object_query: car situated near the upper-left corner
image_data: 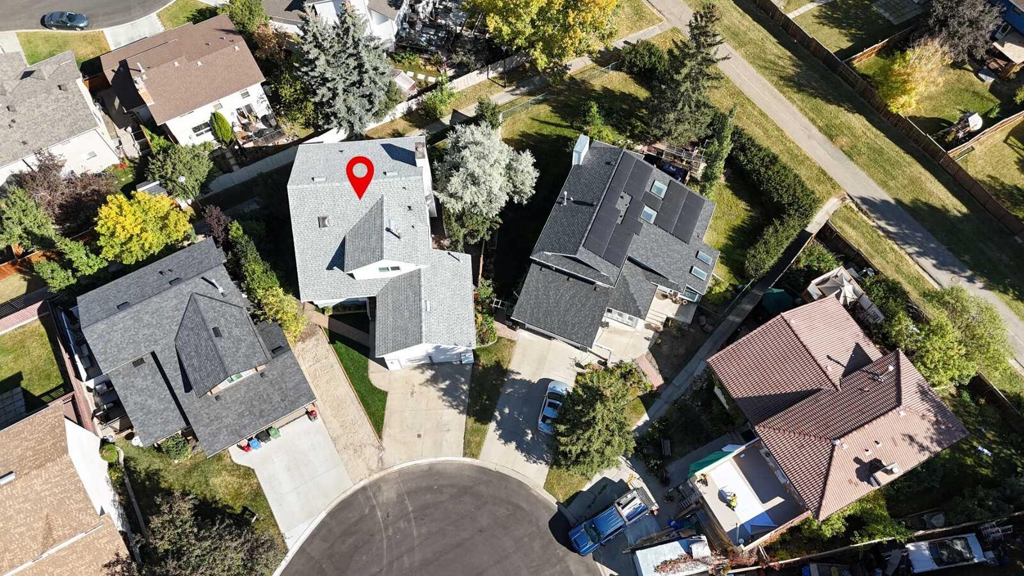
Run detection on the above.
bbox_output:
[42,14,92,34]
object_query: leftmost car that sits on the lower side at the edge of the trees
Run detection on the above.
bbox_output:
[533,379,572,439]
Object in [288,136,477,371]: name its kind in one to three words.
house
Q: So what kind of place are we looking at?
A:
residential area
